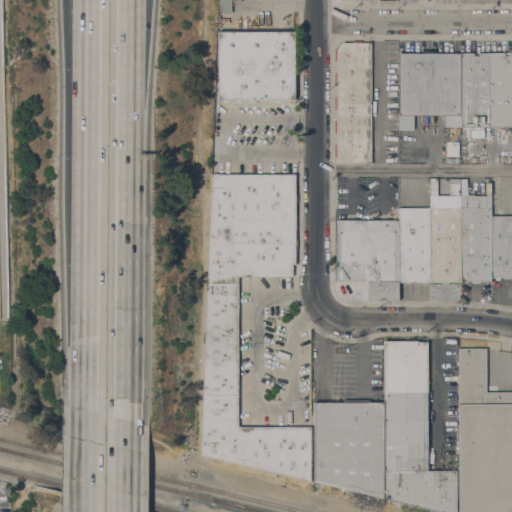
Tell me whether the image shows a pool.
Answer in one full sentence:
No, I can't see a single pool in this photo.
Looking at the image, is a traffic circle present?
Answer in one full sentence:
No, I can see no traffic circle in this picture.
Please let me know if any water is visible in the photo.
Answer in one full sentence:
No, there is no water in the image.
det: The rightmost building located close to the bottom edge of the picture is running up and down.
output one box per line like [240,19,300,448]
[459,404,512,512]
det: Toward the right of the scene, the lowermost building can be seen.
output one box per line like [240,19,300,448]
[386,471,458,512]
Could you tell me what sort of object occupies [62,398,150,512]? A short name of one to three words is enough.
overpass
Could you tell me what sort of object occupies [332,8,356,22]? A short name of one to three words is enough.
vehicle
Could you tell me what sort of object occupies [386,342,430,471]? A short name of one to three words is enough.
building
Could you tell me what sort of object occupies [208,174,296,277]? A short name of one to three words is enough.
building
